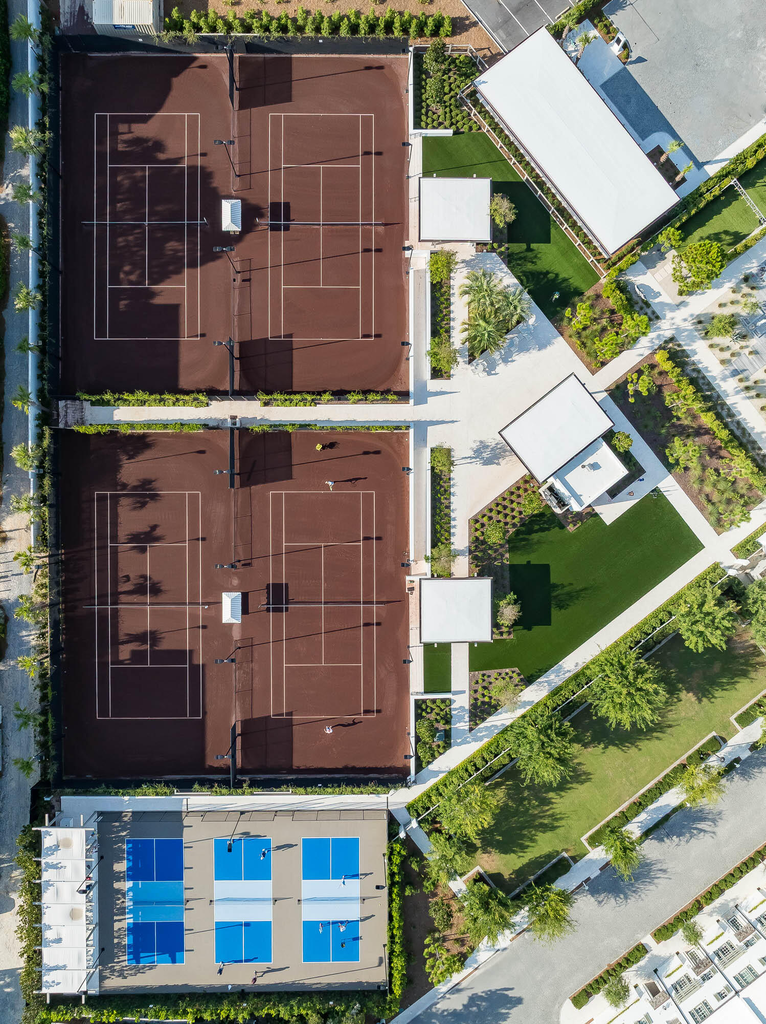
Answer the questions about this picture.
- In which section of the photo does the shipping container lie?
top left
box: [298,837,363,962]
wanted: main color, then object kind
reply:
blue sports court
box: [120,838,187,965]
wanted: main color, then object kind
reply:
blue sports court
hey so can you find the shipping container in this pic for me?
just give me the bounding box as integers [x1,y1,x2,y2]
[92,0,160,35]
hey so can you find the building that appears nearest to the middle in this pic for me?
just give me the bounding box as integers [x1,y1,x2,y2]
[420,573,493,646]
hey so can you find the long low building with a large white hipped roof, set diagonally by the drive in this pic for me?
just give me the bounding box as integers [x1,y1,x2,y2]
[473,27,681,261]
